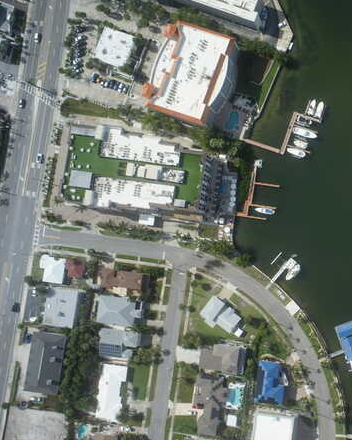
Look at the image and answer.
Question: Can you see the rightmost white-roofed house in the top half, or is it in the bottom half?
bottom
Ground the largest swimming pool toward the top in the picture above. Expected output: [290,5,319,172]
[223,110,241,132]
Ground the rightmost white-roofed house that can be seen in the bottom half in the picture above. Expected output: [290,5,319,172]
[253,411,296,440]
